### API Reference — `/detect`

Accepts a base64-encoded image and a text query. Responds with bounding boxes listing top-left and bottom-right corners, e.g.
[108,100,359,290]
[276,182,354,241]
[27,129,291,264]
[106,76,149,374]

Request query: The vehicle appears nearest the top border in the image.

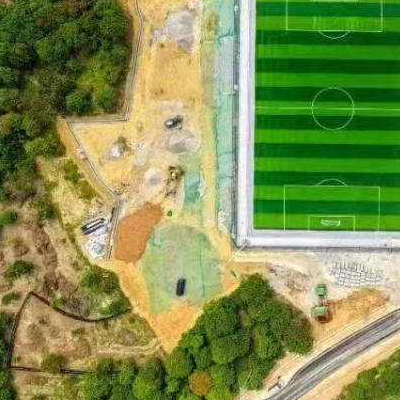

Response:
[164,115,182,128]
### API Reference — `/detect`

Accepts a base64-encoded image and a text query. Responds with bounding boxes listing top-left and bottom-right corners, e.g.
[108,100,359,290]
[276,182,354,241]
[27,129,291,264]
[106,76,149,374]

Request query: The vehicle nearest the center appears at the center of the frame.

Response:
[165,167,179,191]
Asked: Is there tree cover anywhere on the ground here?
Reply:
Yes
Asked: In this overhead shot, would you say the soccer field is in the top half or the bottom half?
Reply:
top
